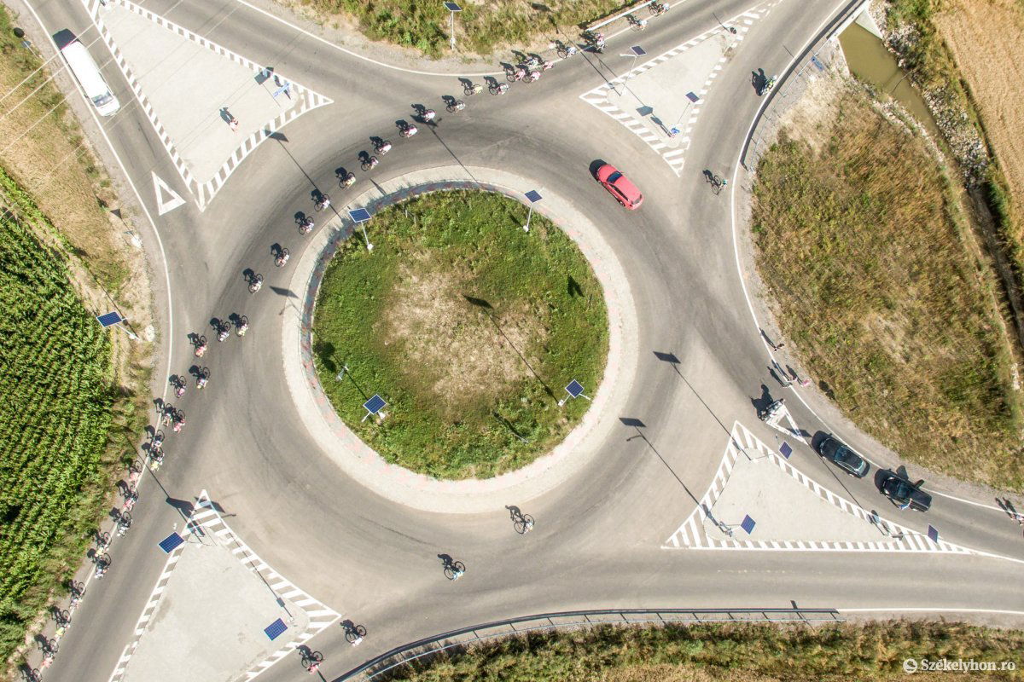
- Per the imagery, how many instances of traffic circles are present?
1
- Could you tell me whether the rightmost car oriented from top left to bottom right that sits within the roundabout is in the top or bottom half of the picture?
top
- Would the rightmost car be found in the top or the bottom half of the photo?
bottom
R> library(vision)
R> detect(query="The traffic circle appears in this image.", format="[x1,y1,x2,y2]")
[177,81,734,621]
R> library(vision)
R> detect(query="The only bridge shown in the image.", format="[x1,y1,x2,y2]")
[827,0,882,75]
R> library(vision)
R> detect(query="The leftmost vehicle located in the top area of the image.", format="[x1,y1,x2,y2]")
[63,41,124,120]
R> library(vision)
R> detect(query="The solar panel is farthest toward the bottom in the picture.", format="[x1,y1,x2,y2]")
[257,614,287,642]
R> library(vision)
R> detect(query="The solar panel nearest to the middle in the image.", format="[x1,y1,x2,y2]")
[563,377,584,397]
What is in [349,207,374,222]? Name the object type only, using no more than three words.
solar panel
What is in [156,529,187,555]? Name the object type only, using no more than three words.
solar panel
